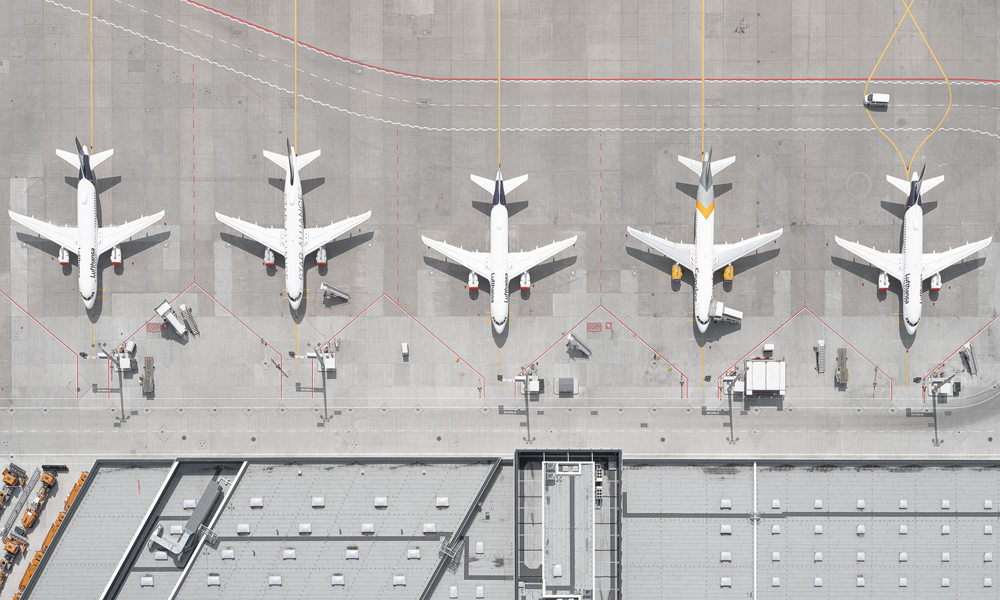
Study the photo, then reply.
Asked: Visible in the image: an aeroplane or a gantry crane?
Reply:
aeroplane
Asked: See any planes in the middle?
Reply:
Yes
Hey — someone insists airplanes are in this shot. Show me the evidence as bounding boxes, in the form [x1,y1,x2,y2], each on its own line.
[215,140,373,310]
[421,162,578,334]
[7,138,165,309]
[835,164,992,335]
[624,143,782,333]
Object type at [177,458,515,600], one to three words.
building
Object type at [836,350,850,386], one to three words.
vehicle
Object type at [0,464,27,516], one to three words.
vehicle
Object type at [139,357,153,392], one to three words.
work vehicle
